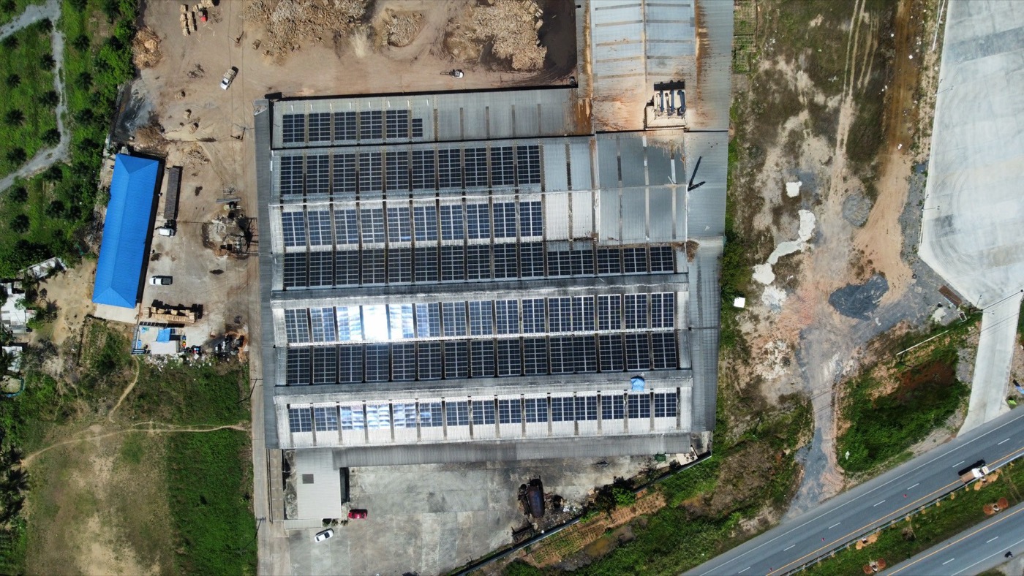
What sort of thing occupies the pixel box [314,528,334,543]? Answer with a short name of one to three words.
car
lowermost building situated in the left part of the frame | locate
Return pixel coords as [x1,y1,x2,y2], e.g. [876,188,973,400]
[284,447,345,530]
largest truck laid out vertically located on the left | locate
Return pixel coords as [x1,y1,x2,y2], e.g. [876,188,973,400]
[157,159,182,232]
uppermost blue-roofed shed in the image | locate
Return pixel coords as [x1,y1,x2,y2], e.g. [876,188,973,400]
[92,153,166,309]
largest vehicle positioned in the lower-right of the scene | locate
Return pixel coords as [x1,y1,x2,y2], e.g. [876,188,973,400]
[957,465,989,487]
